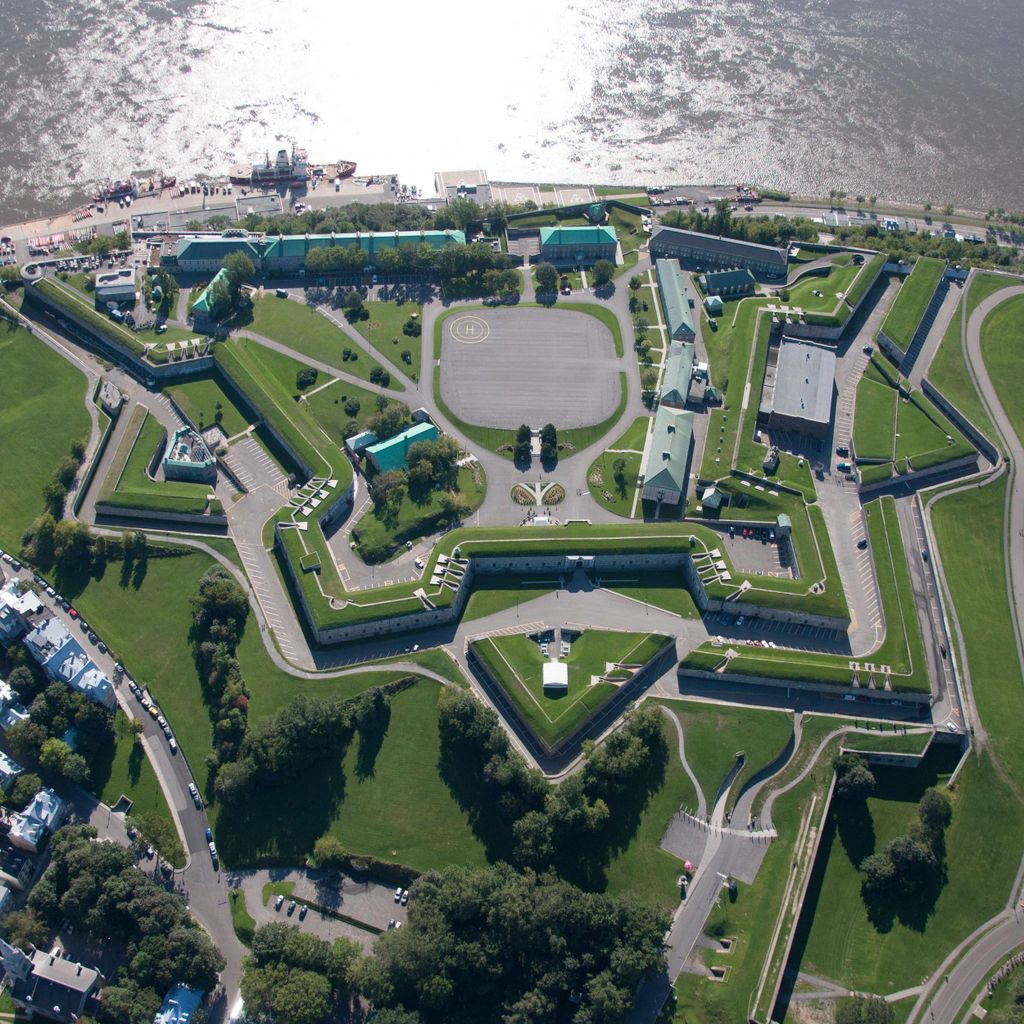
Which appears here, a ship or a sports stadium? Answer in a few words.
ship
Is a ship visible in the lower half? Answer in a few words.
No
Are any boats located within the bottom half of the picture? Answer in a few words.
No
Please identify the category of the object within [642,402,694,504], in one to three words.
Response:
building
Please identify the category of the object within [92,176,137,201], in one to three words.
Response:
boat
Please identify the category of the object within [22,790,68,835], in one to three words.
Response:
house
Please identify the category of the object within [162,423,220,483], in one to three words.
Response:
building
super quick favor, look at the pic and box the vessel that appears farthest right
[225,129,356,184]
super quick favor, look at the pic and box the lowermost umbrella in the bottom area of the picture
[682,857,696,870]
